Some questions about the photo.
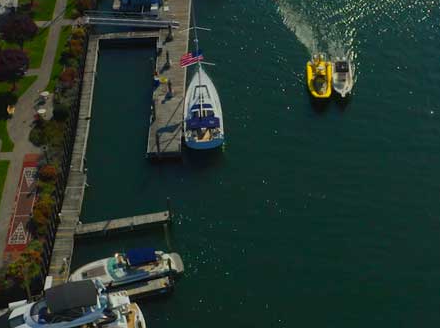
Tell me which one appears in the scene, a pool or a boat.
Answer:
boat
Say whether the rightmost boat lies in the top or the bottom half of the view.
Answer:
top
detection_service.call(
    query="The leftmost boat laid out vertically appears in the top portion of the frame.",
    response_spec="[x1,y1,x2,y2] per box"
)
[176,0,225,152]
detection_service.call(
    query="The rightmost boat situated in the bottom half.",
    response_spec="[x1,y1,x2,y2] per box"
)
[76,240,186,288]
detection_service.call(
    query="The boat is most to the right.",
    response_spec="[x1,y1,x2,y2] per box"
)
[331,55,356,98]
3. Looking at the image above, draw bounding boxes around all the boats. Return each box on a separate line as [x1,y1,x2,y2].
[76,240,186,288]
[0,273,147,328]
[176,0,225,152]
[331,55,356,98]
[305,46,332,100]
